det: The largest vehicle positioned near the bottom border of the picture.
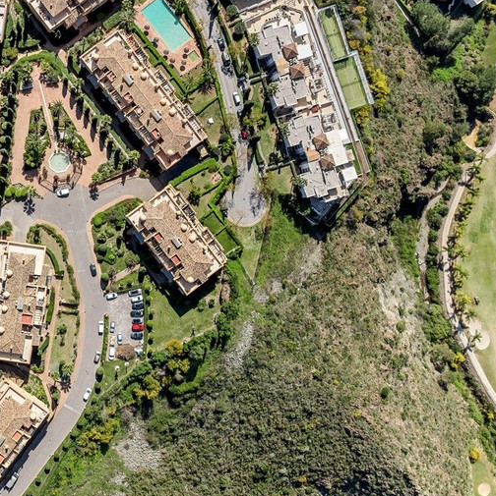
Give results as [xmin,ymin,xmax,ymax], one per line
[3,473,17,490]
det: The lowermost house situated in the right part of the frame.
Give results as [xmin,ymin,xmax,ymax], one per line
[293,151,366,223]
